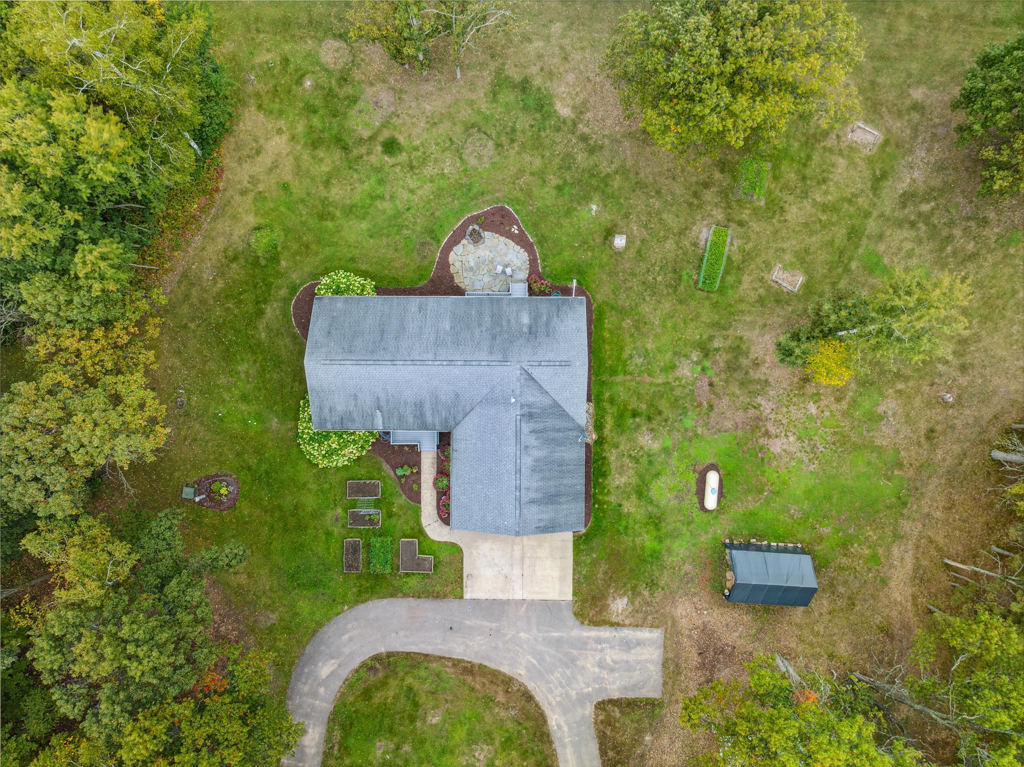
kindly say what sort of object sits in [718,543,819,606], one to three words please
shed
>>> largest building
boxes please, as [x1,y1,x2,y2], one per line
[304,294,589,537]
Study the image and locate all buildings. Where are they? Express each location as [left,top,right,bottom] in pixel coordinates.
[718,543,819,606]
[304,294,589,537]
